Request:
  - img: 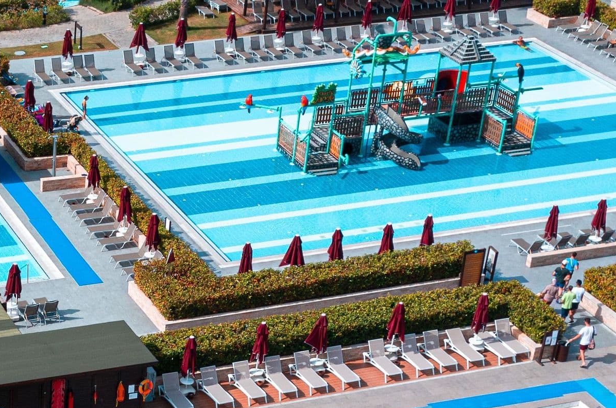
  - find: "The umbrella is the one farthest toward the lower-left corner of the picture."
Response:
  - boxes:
[5,262,22,326]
